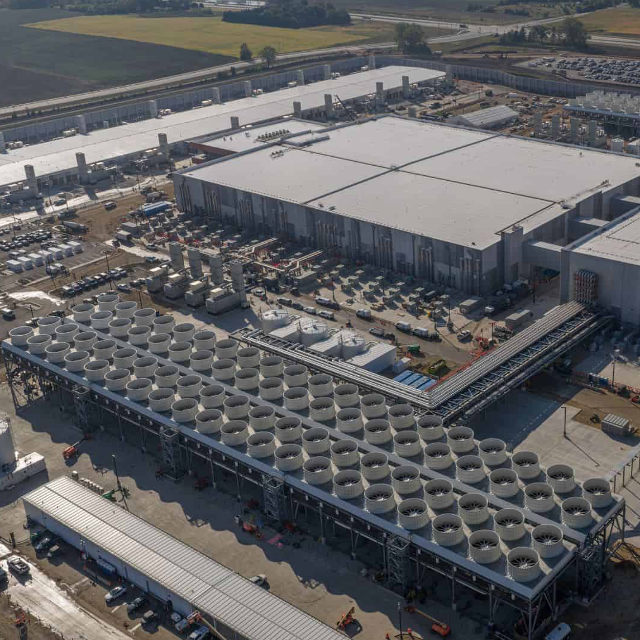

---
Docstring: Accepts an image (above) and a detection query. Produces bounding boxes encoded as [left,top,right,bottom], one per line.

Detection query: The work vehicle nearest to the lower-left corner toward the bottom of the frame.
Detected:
[8,605,31,628]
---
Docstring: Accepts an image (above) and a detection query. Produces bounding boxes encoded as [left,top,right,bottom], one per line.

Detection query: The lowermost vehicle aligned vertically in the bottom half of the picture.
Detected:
[11,546,26,576]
